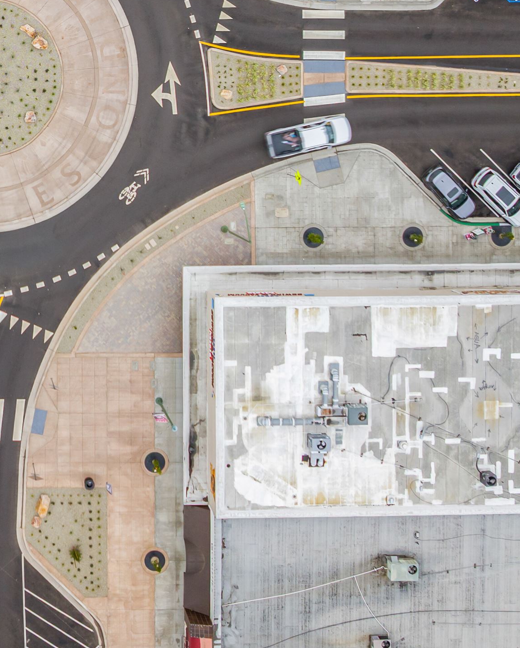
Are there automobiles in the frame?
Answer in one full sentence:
Yes, the picture does show an automobile.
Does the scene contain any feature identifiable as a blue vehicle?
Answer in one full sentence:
No, I can't see a single blue vehicle in this photo.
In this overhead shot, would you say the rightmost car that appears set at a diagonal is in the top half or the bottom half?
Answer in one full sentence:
The rightmost car that appears set at a diagonal sits in the top half of the picture.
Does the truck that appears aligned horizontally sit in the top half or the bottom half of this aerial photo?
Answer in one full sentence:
It is in the top half that the truck that appears aligned horizontally appears.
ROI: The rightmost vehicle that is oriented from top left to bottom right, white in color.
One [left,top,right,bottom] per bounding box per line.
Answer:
[469,163,520,229]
